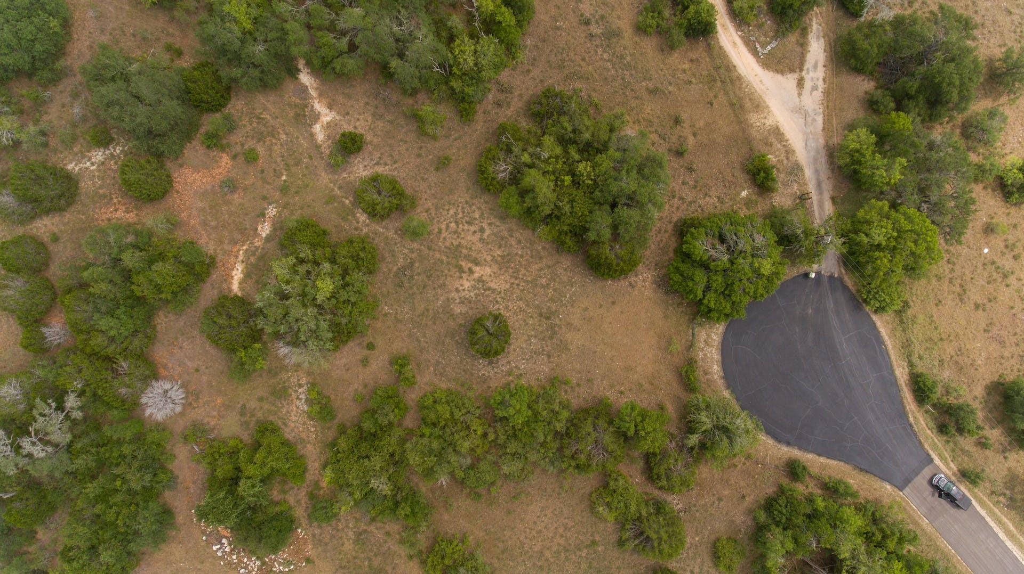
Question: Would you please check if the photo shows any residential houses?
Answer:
No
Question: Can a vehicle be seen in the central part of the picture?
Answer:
No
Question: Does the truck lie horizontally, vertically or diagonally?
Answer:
diagonally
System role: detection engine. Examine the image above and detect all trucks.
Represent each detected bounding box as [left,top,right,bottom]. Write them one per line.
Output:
[930,473,975,513]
